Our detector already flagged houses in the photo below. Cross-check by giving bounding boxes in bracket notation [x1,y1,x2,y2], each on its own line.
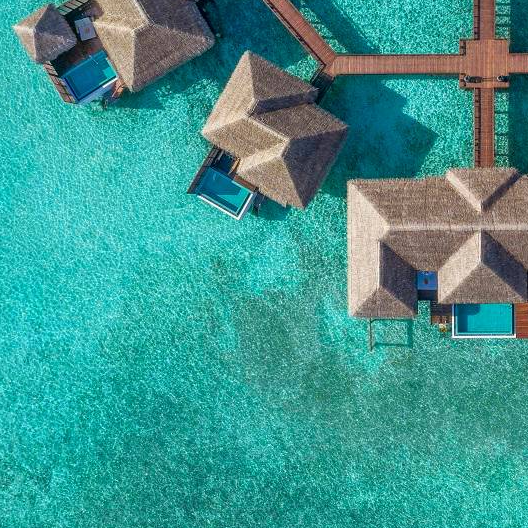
[93,0,217,91]
[346,168,528,319]
[202,50,350,209]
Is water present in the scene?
Yes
